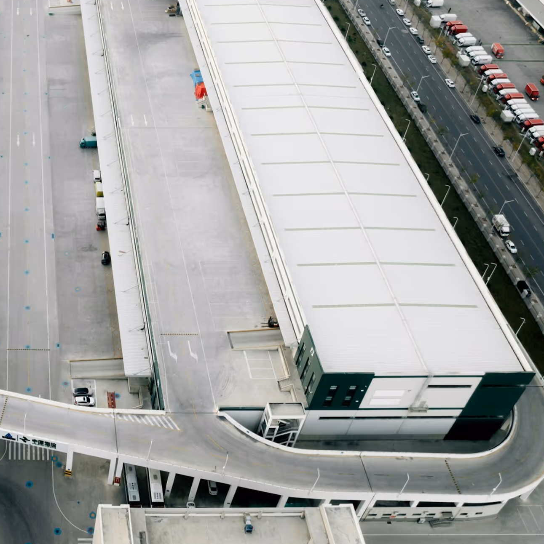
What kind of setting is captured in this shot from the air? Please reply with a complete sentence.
The picture captures an industrial area.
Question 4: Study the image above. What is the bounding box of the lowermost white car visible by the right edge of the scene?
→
[504,240,518,253]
